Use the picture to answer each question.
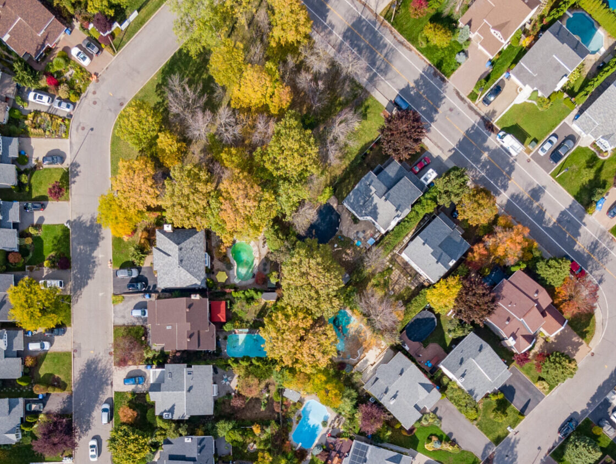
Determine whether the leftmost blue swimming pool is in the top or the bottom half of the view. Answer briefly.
bottom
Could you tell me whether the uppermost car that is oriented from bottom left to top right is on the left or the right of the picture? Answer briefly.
right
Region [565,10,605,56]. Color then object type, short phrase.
blue swimming pool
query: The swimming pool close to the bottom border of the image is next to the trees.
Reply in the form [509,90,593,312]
[291,397,331,451]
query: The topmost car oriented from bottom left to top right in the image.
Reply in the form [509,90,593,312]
[482,85,501,106]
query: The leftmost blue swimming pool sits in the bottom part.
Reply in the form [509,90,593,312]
[225,333,269,359]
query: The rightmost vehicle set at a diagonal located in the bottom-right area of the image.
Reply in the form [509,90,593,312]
[596,417,616,438]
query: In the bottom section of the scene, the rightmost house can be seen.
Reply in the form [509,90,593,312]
[483,269,566,352]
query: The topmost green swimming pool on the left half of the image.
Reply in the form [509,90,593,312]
[230,240,256,282]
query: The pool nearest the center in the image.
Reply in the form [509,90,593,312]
[306,202,343,246]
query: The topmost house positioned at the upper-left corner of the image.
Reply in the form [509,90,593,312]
[0,0,70,67]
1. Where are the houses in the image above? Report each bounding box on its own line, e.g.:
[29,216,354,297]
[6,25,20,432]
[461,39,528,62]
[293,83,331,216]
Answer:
[399,208,469,285]
[363,351,442,430]
[152,224,207,289]
[452,0,543,67]
[148,292,217,350]
[505,21,589,109]
[0,273,26,321]
[343,159,424,237]
[346,439,413,464]
[0,398,28,444]
[483,269,566,352]
[0,329,29,380]
[0,0,70,67]
[0,196,24,250]
[157,435,216,464]
[565,76,616,159]
[436,332,512,402]
[0,70,21,130]
[149,366,213,421]
[0,133,24,187]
